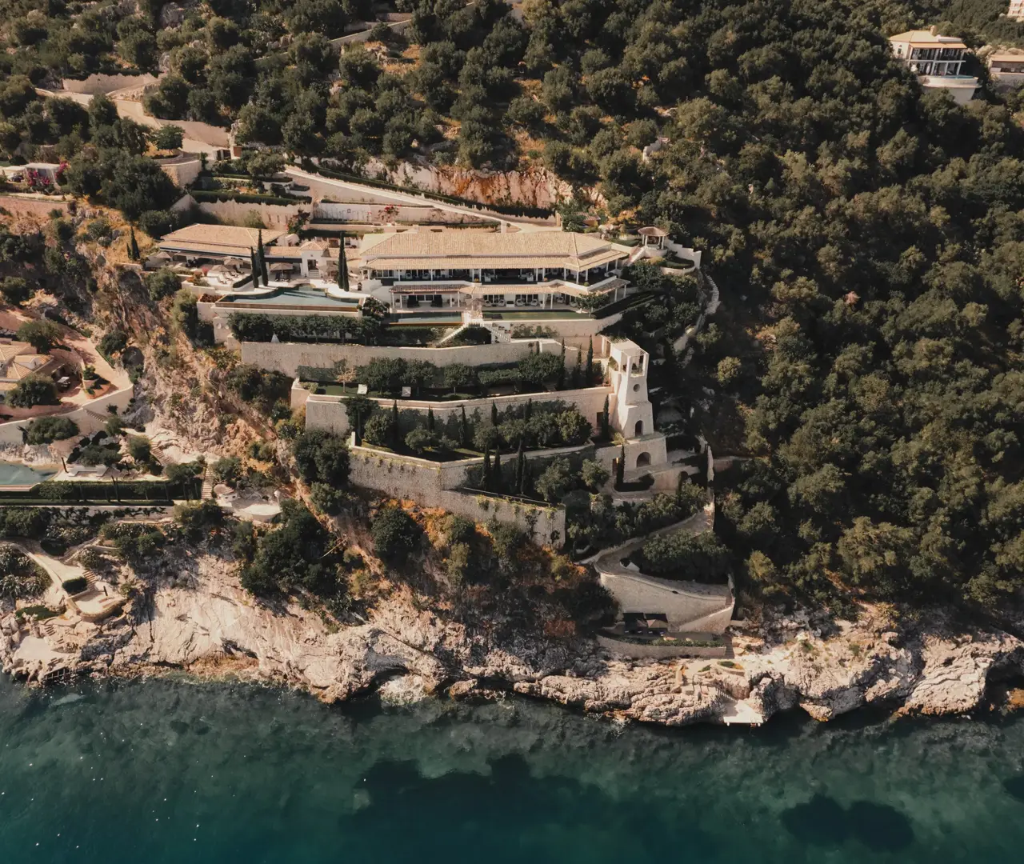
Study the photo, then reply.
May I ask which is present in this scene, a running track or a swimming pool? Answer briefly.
swimming pool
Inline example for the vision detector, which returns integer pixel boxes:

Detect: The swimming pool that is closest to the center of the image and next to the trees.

[394,313,464,337]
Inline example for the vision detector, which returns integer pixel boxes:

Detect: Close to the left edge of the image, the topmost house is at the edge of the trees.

[0,165,68,194]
